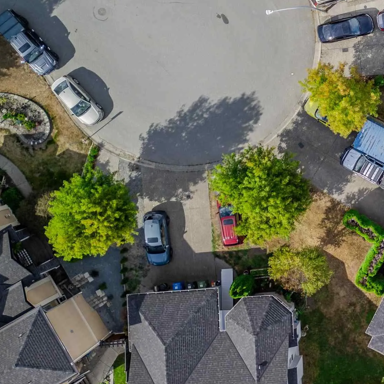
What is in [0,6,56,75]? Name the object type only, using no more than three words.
truck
